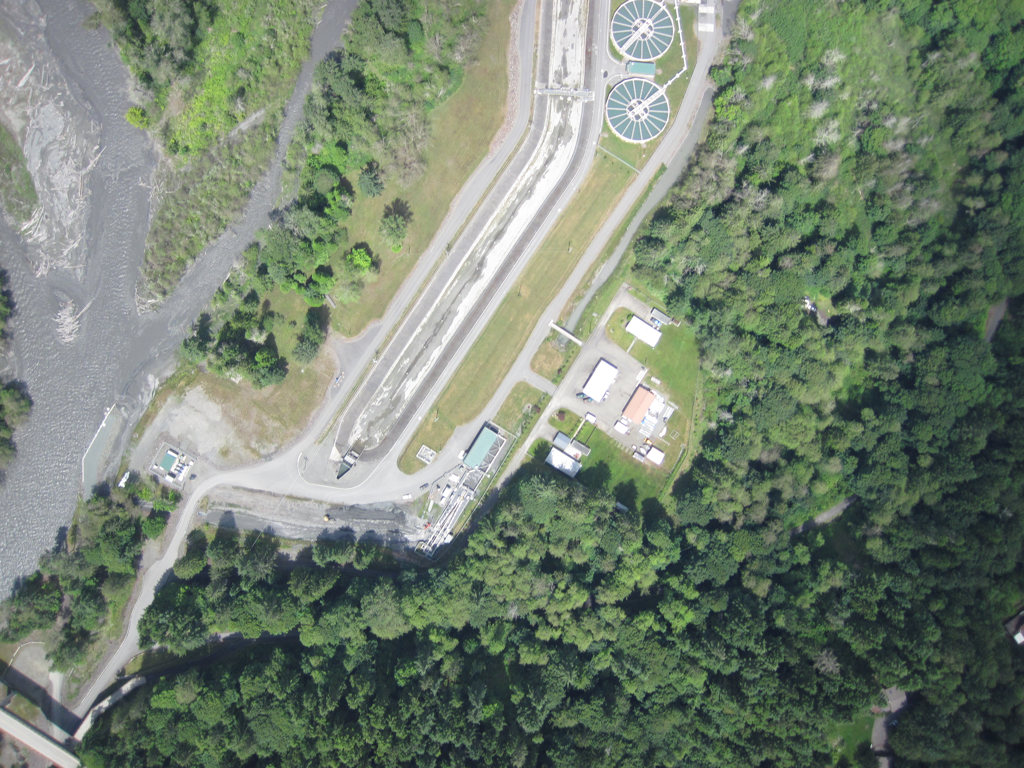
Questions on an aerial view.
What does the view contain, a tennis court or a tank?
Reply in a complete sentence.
The one in the frame is a tank.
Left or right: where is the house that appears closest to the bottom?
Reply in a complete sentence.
You can find the house that appears closest to the bottom on the right side of the picture.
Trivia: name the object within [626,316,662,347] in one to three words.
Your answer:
house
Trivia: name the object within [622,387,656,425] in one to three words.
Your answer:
building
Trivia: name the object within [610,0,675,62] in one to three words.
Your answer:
storage tank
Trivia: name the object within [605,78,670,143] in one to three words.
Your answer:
storage tank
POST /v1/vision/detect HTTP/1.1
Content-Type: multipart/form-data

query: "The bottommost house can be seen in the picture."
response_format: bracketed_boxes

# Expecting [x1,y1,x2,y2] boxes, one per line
[882,682,908,710]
